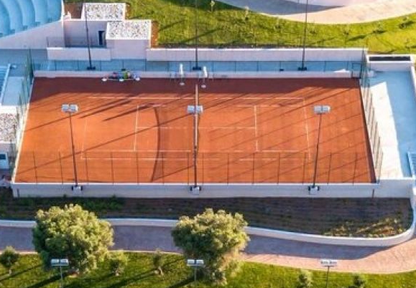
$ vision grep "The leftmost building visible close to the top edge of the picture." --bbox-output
[81,3,128,44]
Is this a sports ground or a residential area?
sports ground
